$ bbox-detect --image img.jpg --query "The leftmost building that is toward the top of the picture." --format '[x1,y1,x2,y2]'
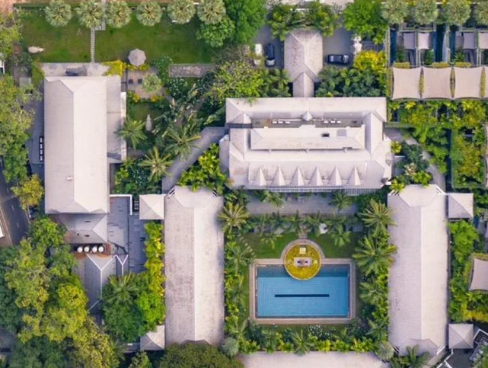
[30,63,126,213]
